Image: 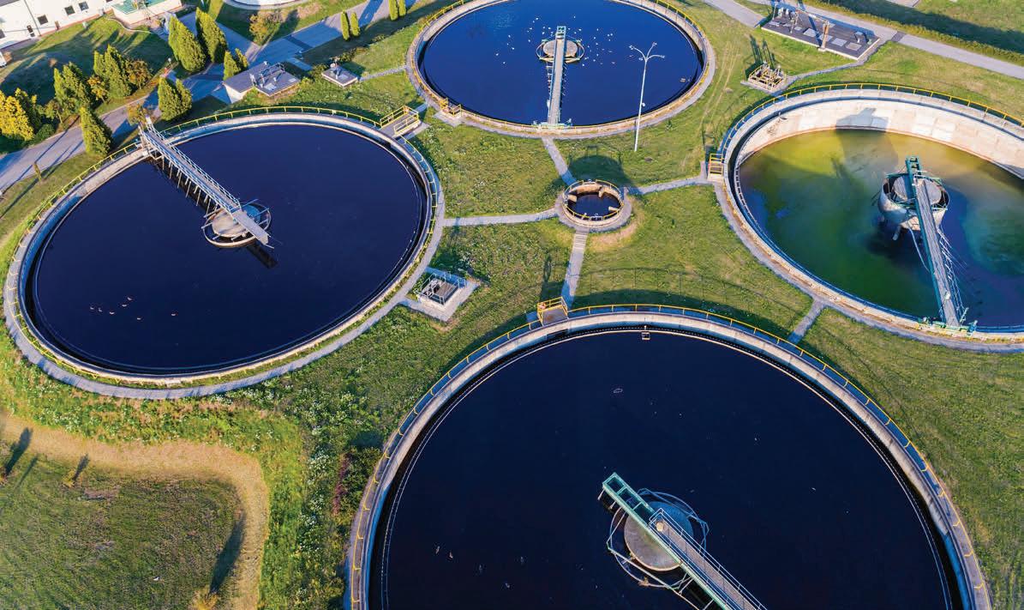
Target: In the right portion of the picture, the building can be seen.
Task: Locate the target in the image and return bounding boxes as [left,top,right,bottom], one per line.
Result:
[762,0,880,62]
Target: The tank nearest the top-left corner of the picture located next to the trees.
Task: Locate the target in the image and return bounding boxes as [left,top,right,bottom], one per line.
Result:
[9,108,435,383]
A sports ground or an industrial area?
industrial area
